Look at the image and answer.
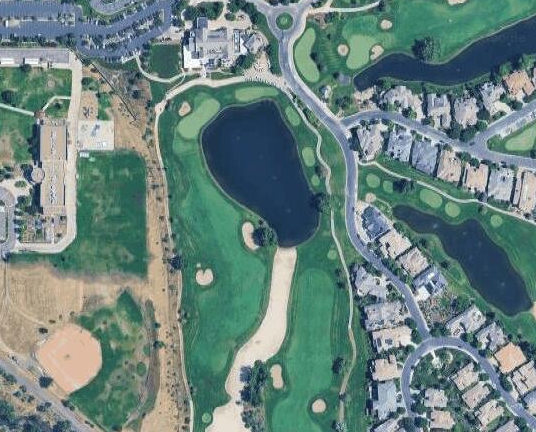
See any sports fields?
Yes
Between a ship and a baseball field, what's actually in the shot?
baseball field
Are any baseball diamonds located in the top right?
No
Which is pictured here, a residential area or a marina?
residential area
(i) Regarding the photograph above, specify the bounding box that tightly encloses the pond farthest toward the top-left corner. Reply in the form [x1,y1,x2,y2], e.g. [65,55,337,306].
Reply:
[201,100,319,246]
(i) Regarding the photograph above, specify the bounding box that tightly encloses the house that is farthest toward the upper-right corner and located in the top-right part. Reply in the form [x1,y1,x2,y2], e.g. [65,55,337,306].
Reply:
[503,65,534,101]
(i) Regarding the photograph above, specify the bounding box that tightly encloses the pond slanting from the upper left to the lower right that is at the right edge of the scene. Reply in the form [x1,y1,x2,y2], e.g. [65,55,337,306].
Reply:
[392,206,530,315]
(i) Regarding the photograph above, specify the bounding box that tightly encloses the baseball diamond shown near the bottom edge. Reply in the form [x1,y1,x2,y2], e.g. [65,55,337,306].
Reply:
[34,288,146,429]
